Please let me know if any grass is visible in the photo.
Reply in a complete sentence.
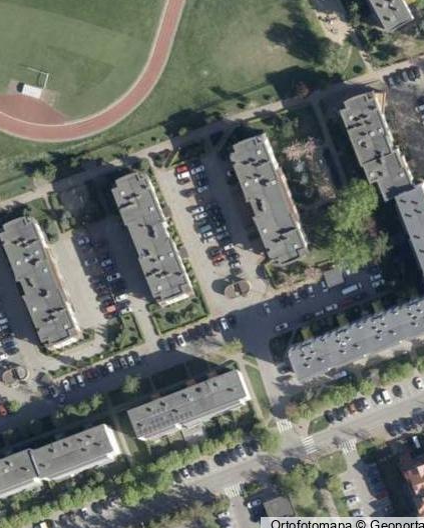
Yes, some grass is visible.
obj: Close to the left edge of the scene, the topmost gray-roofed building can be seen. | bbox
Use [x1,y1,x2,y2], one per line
[0,217,79,350]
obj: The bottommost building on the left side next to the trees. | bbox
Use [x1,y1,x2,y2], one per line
[0,425,119,496]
